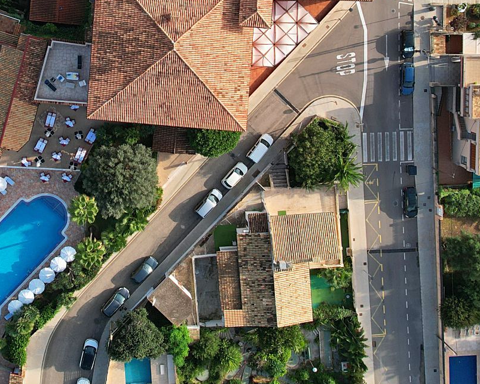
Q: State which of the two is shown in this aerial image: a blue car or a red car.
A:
blue car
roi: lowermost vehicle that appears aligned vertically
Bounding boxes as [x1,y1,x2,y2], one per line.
[81,337,99,372]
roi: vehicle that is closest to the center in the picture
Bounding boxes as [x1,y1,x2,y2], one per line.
[222,161,248,191]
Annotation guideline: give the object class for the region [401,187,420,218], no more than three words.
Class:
car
